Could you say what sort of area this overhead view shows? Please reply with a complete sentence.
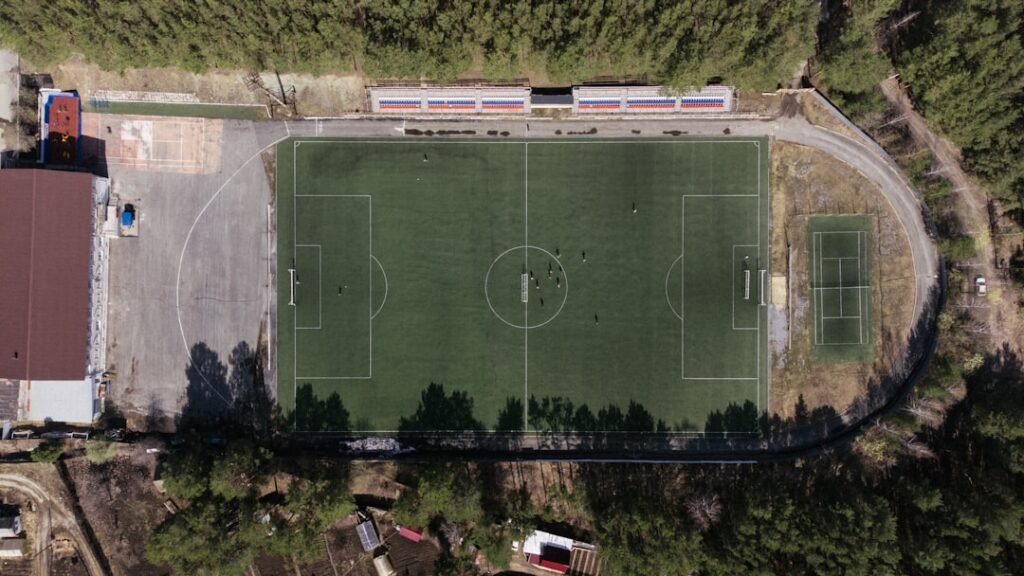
This looks like a sports ground.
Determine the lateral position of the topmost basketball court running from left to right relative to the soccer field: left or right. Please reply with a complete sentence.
Relative to the soccer field, the topmost basketball court running from left to right lies to the left.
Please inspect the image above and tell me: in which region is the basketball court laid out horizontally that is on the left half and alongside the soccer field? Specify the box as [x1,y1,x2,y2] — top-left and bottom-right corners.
[81,112,223,173]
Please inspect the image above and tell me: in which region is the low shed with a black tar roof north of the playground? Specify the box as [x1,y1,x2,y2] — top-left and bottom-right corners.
[22,74,59,91]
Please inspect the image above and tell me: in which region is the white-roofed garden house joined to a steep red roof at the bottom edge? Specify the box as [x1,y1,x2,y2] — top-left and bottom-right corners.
[523,525,574,576]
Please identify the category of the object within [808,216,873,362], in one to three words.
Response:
tennis court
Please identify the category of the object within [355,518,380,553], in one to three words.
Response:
shed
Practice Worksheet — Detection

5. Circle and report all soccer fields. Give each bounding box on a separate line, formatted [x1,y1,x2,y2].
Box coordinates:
[276,137,771,437]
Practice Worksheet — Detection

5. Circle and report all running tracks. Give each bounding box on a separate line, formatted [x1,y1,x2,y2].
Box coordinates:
[177,115,944,457]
